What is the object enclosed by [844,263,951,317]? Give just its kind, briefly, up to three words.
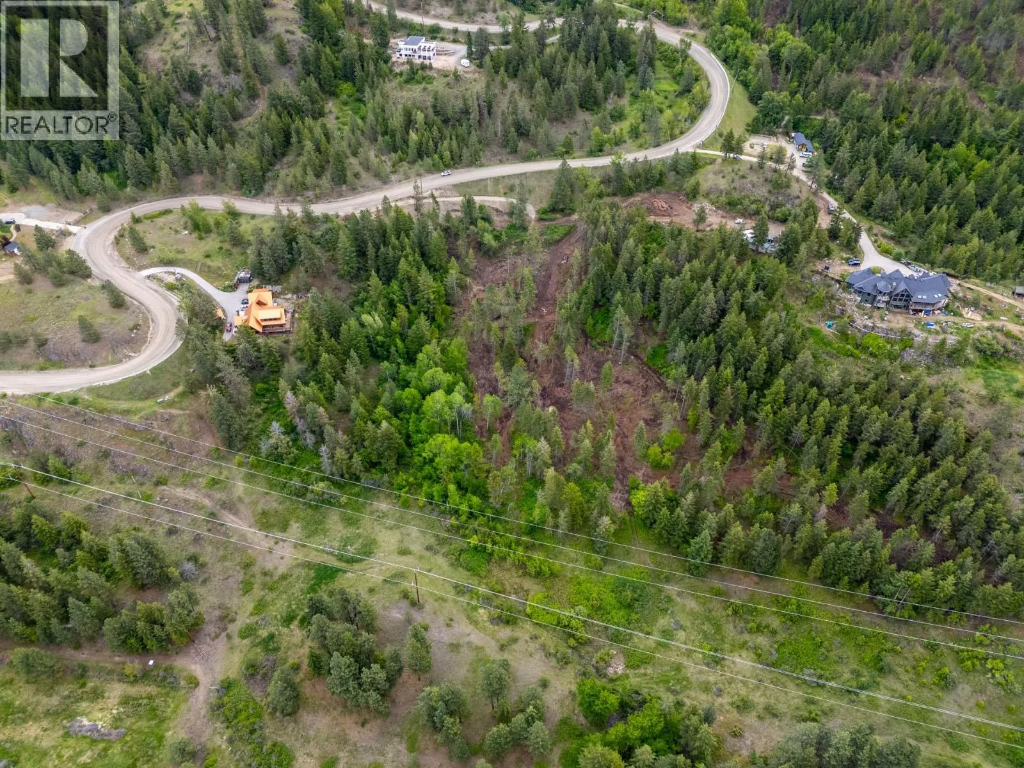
house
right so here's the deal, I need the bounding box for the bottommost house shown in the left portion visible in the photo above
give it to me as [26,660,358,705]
[234,285,292,338]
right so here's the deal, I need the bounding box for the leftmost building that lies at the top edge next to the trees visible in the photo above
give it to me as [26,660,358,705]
[398,36,436,62]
